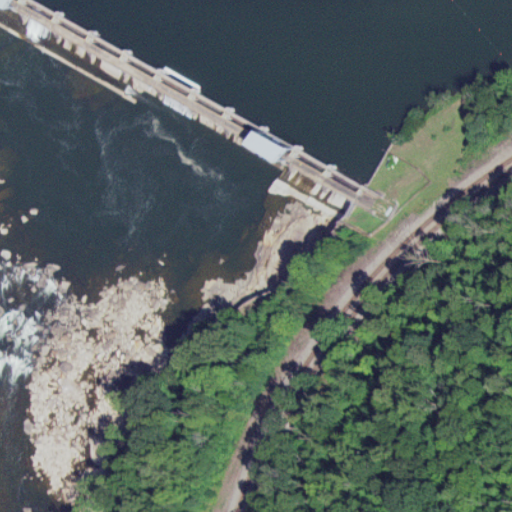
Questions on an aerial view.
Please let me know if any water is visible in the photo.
Yes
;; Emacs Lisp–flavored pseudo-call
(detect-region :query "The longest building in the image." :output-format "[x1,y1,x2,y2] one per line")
[242,130,288,165]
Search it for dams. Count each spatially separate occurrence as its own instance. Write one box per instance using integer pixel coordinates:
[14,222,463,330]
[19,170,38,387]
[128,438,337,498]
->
[0,0,388,210]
